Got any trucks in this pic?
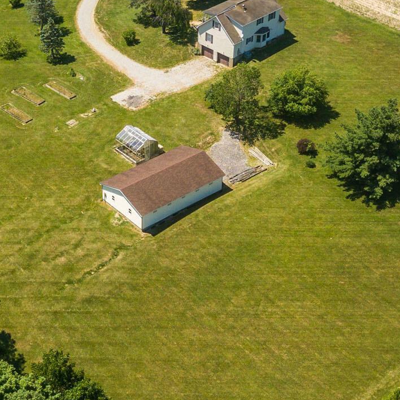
No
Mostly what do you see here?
grass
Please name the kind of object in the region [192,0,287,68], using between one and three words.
house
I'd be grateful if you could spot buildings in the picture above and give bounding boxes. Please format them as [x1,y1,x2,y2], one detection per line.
[192,0,287,68]
[99,146,227,232]
[114,125,162,164]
